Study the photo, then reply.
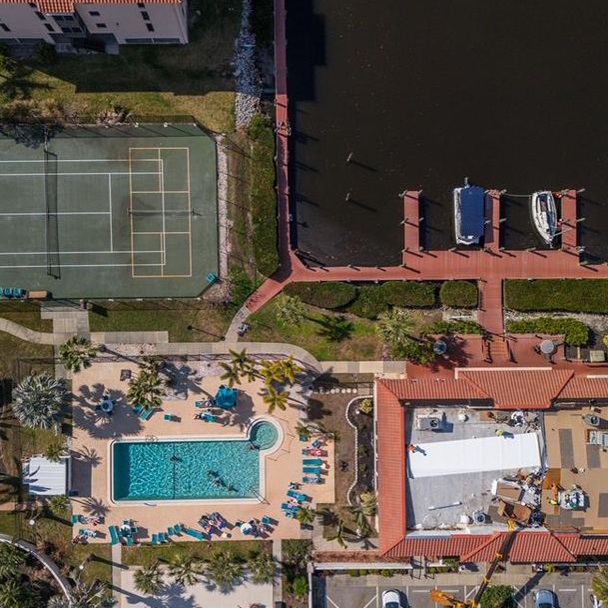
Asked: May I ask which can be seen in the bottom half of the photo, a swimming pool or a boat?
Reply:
swimming pool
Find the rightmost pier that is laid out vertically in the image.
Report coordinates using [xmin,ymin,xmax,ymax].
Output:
[555,188,585,251]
